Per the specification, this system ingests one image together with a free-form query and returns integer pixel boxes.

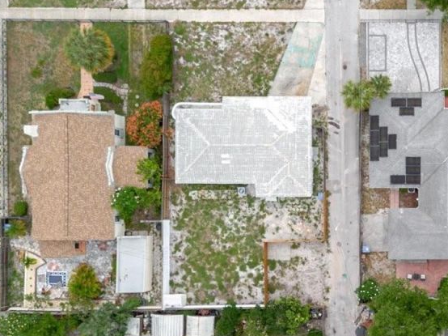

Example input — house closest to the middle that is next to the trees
[173,97,313,200]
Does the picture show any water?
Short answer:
No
